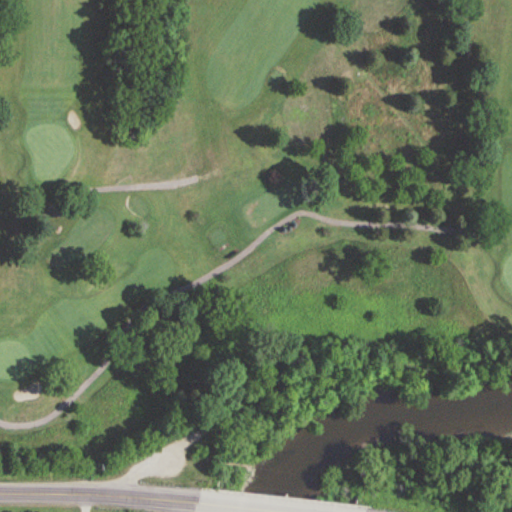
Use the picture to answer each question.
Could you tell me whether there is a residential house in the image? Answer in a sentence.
No, there's no residential house here.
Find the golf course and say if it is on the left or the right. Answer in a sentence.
The golf course is on the left side of the image.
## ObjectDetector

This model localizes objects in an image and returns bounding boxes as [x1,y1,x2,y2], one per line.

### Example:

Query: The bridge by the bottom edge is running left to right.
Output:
[199,490,368,512]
